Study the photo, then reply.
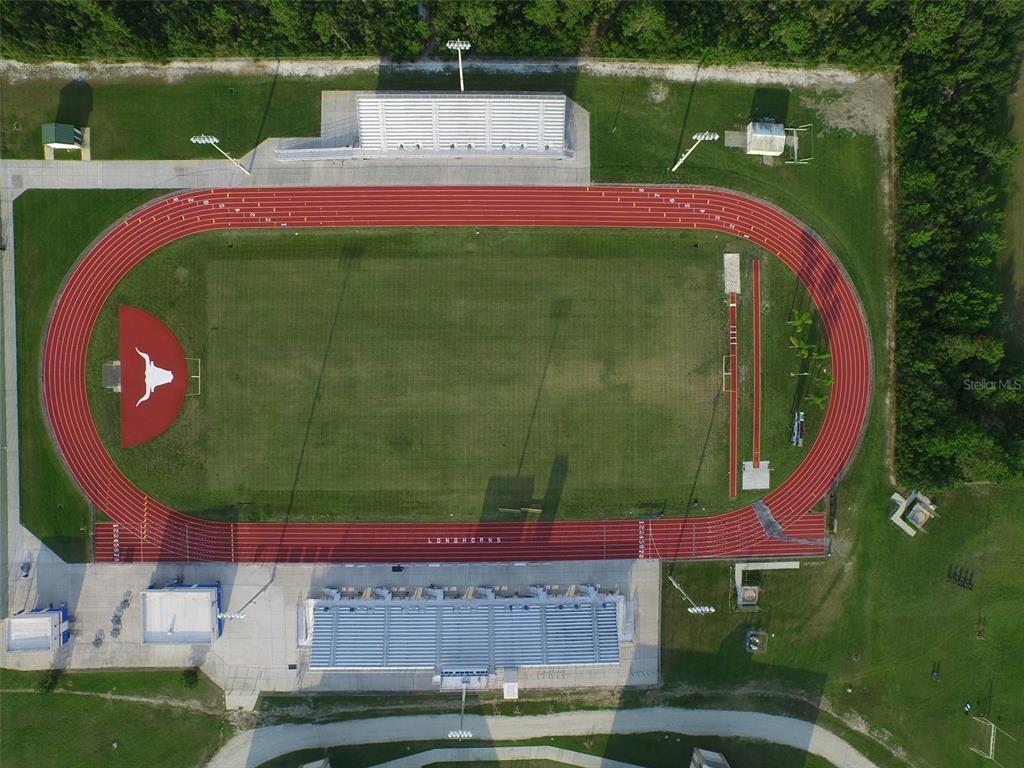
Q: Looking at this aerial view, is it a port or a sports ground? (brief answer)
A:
sports ground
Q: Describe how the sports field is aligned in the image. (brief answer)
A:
from side to side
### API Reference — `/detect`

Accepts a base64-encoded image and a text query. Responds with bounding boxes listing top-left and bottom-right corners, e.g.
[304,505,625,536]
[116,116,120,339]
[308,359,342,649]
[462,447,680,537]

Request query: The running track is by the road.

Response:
[42,183,873,687]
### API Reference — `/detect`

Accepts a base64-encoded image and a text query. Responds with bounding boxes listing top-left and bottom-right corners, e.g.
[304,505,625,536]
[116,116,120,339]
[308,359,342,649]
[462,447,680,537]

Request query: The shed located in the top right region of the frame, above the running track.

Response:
[747,120,786,155]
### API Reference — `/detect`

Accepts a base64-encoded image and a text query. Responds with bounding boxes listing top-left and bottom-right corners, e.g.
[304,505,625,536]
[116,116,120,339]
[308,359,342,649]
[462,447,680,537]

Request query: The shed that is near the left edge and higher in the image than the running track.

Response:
[43,121,81,148]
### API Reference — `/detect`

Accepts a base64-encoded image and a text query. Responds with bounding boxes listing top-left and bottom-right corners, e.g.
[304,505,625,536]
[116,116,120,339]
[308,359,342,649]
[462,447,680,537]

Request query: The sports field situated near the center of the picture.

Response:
[206,259,706,490]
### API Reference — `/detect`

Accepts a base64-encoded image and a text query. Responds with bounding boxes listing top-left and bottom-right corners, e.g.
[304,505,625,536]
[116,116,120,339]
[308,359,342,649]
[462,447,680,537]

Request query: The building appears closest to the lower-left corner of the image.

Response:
[7,608,72,652]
